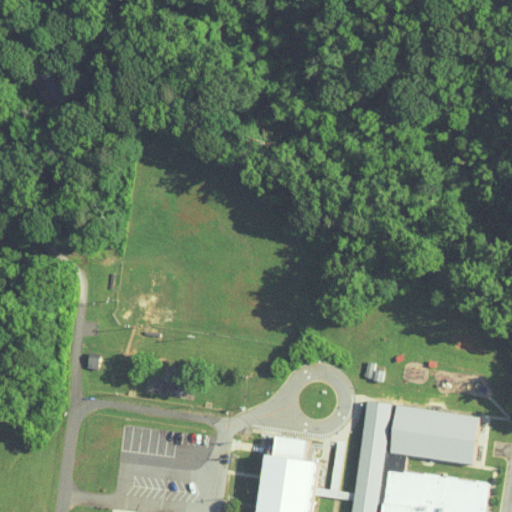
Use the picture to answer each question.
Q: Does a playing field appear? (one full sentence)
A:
Yes, the picture does show a playing field.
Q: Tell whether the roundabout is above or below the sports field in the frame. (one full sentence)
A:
As seen from overhead, the roundabout falls below the sports field in the picture.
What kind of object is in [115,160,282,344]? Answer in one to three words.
sports field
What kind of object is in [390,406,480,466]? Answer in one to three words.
building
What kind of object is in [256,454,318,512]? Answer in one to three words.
building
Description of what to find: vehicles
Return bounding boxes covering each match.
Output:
[176,432,182,444]
[166,432,172,442]
[191,433,196,444]
[204,435,210,447]
[188,481,197,496]
[196,434,202,445]
[172,482,178,492]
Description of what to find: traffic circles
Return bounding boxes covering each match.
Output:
[232,361,356,440]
